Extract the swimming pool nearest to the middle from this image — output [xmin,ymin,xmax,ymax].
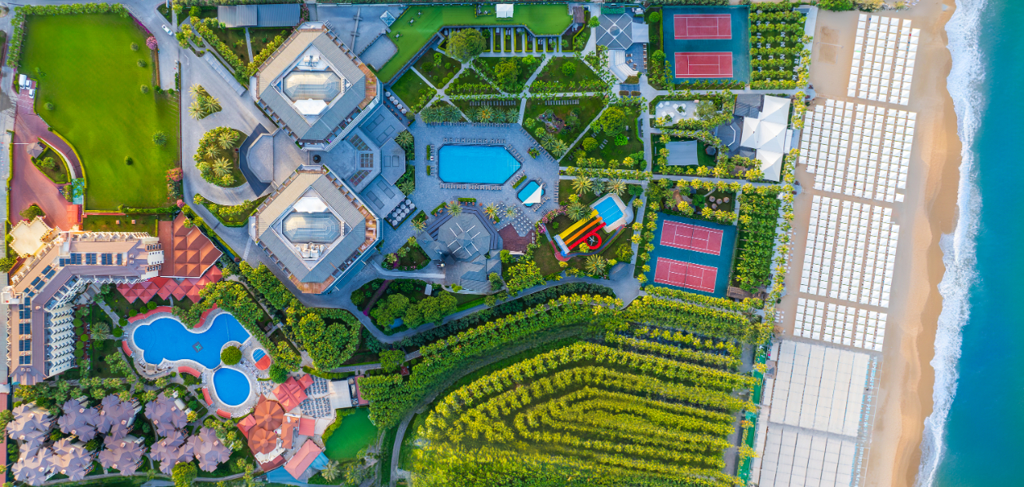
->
[517,180,546,207]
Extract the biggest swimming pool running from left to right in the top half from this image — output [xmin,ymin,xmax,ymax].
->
[437,143,522,185]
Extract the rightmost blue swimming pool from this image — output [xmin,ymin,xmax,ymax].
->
[594,196,623,227]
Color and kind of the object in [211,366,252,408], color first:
blue swimming pool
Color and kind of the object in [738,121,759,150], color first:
white tent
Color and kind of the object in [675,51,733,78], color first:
red tennis court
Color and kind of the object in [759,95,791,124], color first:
white tent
